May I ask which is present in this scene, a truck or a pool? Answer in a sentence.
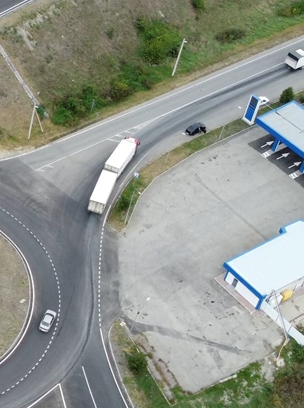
Of the two, only a truck appears.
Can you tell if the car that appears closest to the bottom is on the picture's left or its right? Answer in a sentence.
The car that appears closest to the bottom sits on the left side.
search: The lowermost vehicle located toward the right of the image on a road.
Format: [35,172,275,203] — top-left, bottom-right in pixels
[184,122,209,137]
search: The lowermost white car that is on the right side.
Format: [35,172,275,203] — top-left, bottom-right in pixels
[256,94,273,106]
